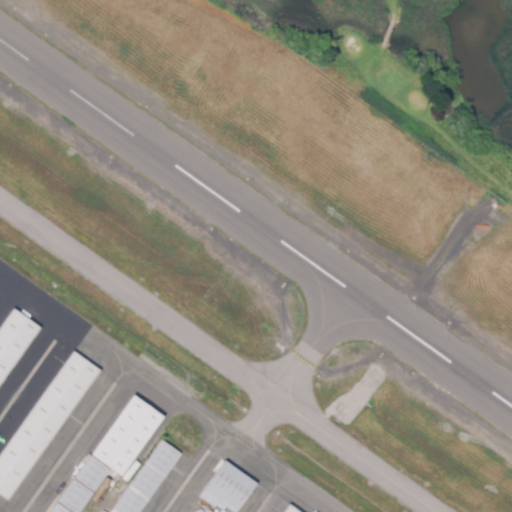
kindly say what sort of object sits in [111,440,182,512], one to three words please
hangar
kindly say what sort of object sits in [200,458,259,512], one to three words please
hangar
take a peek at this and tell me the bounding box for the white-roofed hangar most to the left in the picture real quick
[0,308,42,386]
